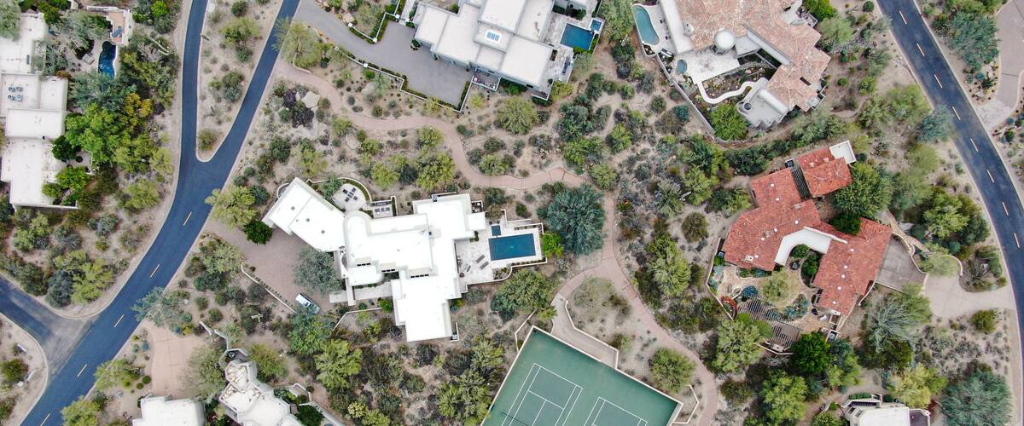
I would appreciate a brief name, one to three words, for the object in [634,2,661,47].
swimming pool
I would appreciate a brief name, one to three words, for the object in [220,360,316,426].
house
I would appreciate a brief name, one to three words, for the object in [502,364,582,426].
tennis court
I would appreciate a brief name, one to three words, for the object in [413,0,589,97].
house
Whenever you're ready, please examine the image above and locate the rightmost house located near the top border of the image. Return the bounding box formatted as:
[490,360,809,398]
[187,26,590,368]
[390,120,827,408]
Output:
[655,0,830,131]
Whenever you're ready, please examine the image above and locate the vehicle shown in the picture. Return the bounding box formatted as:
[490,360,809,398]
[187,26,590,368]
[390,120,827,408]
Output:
[296,293,321,314]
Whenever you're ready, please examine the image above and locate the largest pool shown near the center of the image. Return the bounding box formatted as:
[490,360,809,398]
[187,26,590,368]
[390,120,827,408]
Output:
[486,232,538,263]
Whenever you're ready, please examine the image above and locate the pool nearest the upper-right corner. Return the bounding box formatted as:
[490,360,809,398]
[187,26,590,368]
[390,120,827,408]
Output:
[675,58,689,75]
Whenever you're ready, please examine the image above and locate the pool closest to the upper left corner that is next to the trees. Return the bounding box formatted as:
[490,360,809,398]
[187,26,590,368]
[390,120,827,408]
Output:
[96,38,118,76]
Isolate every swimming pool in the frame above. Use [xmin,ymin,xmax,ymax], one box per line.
[486,232,538,263]
[675,58,689,75]
[634,2,661,47]
[558,21,595,48]
[588,16,604,33]
[490,223,502,238]
[96,38,118,76]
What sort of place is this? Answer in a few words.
residential area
